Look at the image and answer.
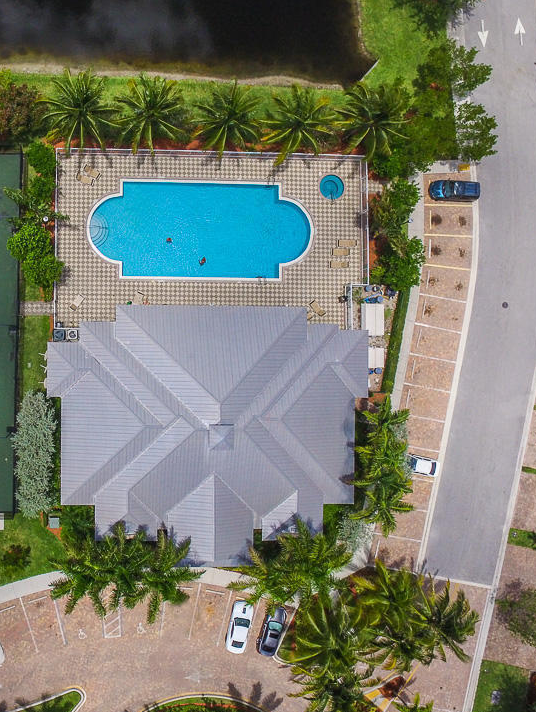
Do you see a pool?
Yes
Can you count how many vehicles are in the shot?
4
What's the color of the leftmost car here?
white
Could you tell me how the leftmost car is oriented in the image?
from top to bottom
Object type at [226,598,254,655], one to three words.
car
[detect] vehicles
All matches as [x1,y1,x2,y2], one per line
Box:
[390,449,441,476]
[426,177,482,203]
[256,604,286,658]
[226,598,254,655]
